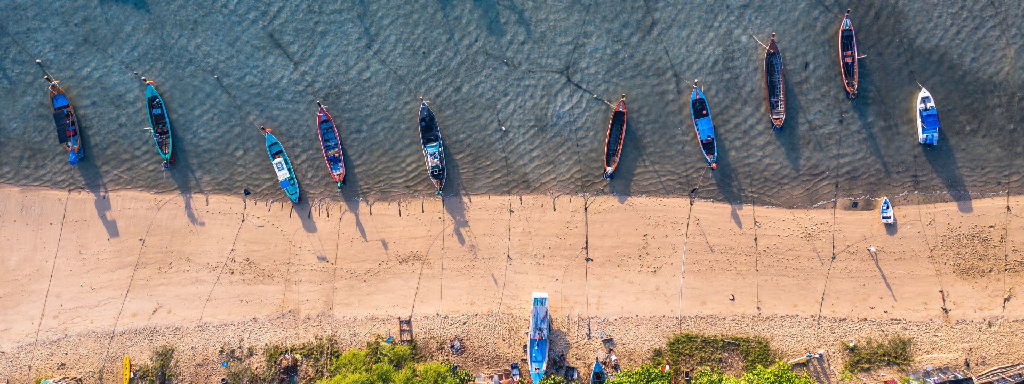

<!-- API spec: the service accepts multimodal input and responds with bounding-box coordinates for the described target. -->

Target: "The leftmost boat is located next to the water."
[42,76,84,172]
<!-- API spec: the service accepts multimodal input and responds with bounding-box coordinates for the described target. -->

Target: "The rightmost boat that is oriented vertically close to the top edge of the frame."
[837,6,867,105]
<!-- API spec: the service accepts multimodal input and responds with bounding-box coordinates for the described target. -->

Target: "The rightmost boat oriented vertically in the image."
[914,88,940,147]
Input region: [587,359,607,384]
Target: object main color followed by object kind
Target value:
blue boat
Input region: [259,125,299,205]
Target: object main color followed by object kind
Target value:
blue boat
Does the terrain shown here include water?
Yes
